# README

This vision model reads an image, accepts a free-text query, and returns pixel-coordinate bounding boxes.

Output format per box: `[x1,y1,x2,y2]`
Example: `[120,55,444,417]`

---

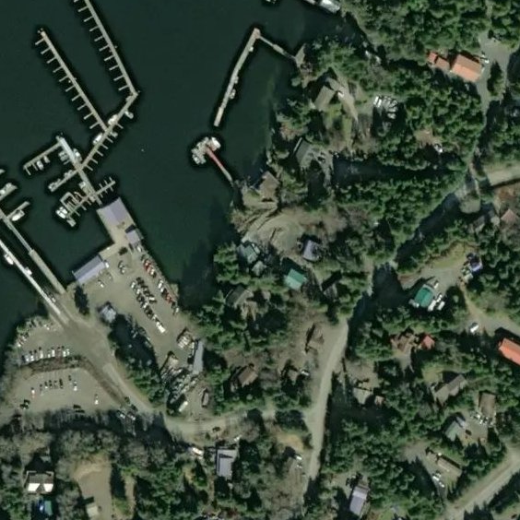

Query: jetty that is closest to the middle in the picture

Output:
[191,137,235,187]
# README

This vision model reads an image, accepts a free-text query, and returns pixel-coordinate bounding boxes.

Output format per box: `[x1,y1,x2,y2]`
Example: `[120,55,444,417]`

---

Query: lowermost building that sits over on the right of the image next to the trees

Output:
[350,484,371,514]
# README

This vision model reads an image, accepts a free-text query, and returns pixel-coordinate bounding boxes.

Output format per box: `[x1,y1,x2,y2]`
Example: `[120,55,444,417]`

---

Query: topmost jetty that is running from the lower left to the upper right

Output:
[214,27,295,125]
